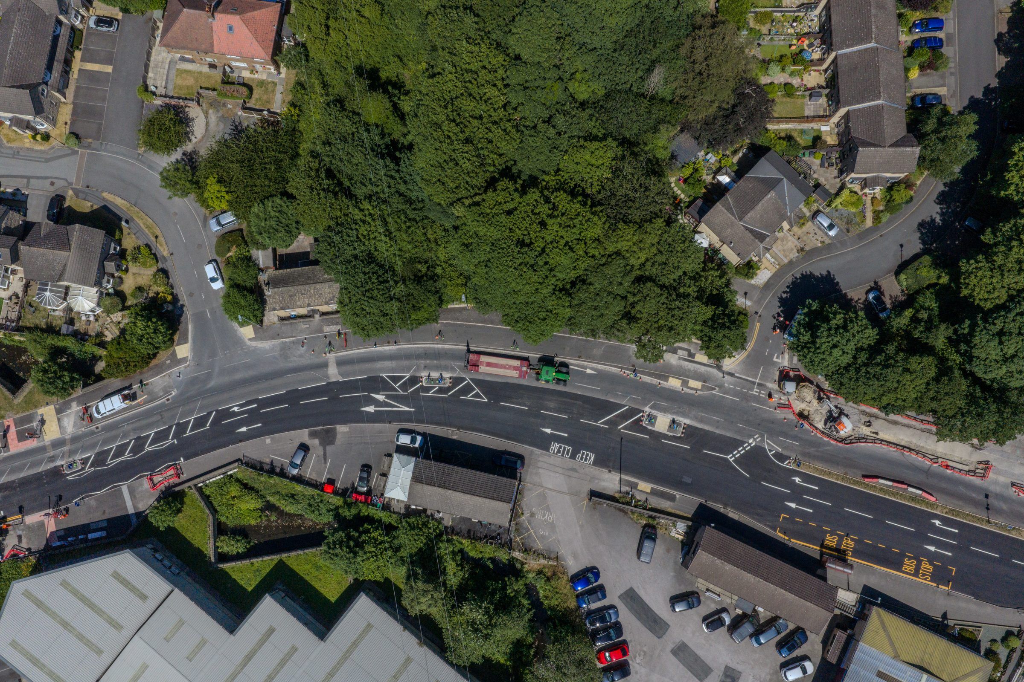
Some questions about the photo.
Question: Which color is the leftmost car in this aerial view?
black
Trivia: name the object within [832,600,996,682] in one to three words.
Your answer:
building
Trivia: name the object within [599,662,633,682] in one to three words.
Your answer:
car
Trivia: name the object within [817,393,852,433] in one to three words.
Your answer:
work vehicle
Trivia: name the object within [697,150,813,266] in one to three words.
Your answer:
house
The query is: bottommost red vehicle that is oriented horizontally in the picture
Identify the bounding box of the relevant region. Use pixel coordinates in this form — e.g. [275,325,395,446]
[596,644,630,663]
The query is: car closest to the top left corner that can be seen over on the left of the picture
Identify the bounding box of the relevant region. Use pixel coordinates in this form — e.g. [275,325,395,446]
[88,14,121,34]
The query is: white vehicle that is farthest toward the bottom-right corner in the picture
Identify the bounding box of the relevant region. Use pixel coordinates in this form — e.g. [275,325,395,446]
[779,658,815,682]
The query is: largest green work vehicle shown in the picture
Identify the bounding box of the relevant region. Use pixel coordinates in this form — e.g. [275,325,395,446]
[534,363,570,384]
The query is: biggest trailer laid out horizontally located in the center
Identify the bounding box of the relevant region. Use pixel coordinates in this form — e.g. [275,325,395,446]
[464,353,538,379]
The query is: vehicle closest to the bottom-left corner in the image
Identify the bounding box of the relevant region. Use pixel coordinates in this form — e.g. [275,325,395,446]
[94,391,139,417]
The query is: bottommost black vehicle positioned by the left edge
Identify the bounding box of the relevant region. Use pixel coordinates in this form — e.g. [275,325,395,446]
[45,193,69,224]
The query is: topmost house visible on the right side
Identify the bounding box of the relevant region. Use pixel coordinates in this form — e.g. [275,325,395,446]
[816,0,899,64]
